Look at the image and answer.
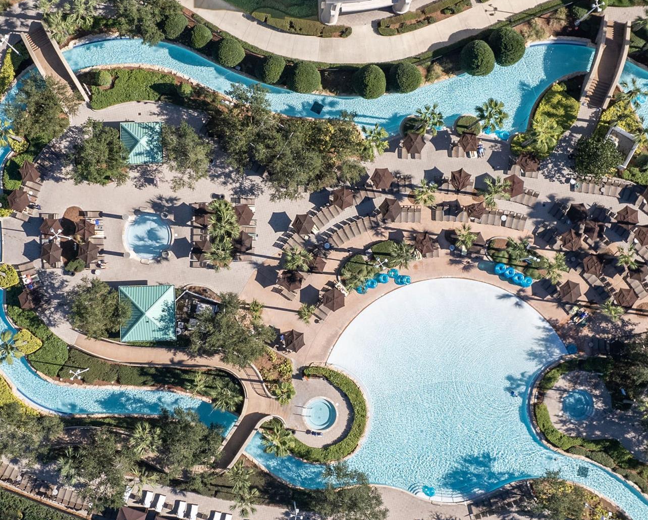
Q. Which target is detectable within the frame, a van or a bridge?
bridge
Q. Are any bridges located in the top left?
Yes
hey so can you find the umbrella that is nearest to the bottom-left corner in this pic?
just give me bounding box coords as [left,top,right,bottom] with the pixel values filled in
[16,288,40,312]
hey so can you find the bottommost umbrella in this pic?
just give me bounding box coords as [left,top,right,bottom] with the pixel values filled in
[283,329,307,353]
